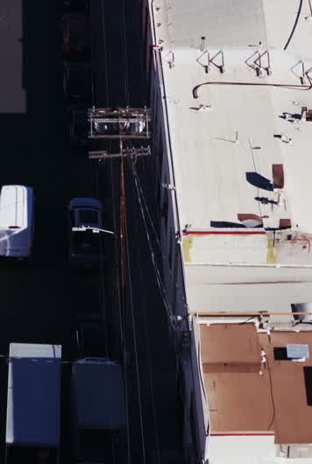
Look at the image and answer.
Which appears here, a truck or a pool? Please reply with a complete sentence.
The one in the frame is a truck.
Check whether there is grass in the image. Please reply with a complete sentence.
No, no grass is visible.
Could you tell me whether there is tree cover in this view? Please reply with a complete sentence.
No, tree cover can't be seen anywhere here.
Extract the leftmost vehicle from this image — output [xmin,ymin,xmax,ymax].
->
[0,190,32,264]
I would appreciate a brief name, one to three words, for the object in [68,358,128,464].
truck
